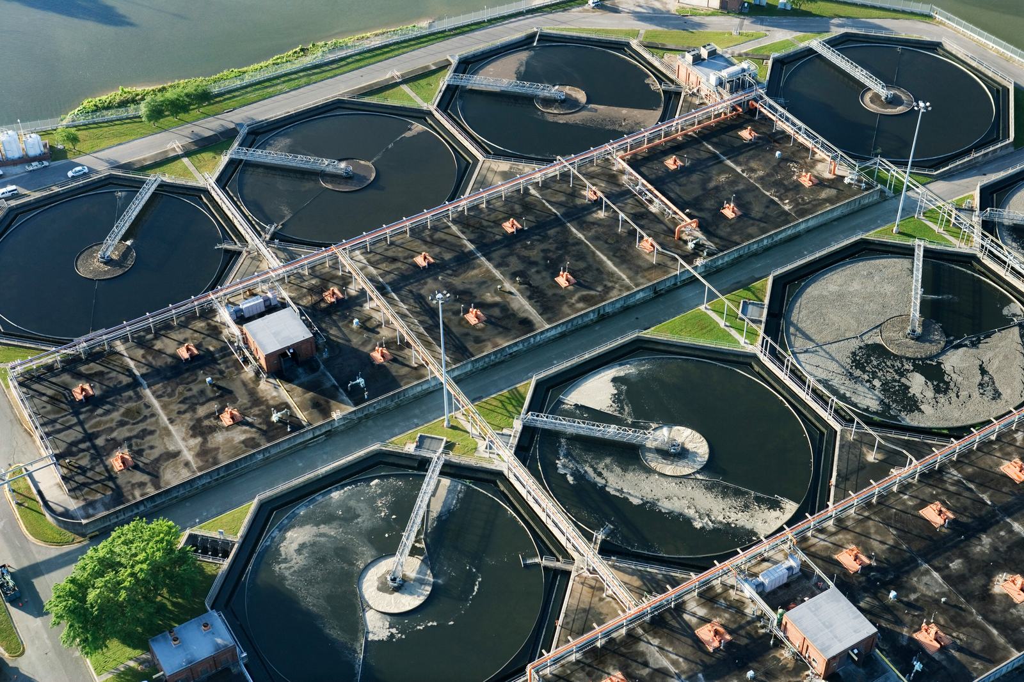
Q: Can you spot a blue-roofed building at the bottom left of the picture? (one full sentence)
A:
Yes, I can see a blue-roofed building at the bottom left of the picture.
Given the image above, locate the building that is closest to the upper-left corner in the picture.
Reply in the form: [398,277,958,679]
[241,305,314,373]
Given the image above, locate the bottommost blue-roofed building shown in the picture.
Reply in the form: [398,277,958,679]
[147,611,235,682]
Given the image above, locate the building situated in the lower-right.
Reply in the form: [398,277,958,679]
[776,584,876,678]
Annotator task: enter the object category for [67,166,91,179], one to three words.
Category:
vehicle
